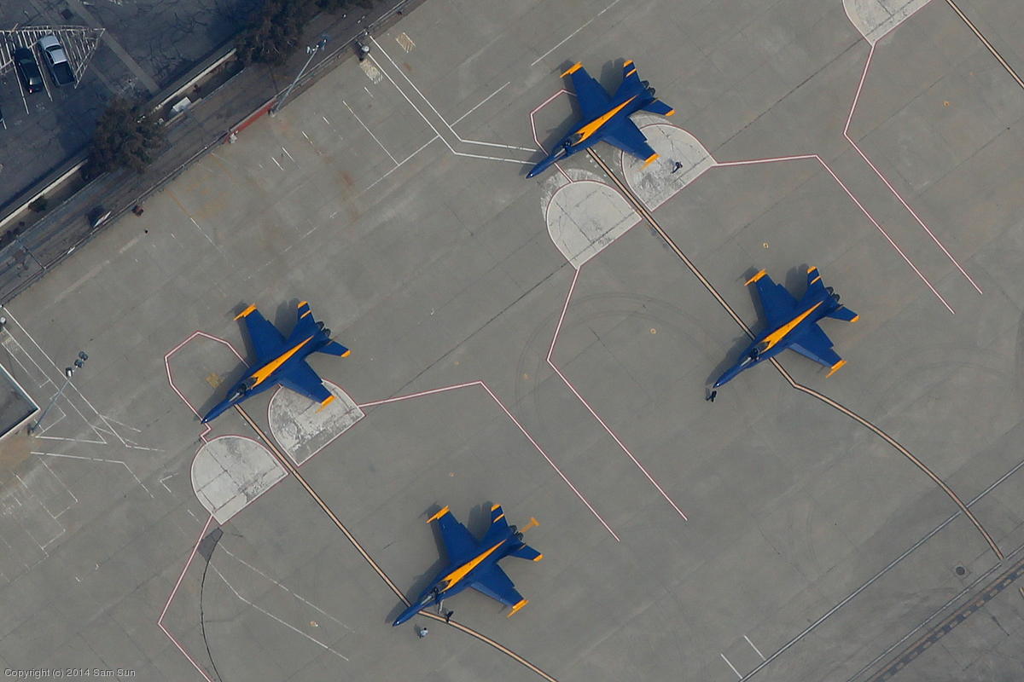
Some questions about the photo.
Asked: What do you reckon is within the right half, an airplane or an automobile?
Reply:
airplane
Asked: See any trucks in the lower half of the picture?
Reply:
No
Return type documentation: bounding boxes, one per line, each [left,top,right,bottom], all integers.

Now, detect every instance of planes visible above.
[393,504,543,626]
[714,266,860,387]
[202,301,351,423]
[527,59,675,177]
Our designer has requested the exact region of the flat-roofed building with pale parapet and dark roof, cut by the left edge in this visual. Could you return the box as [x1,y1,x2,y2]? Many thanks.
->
[0,364,38,441]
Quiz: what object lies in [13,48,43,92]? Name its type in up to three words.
car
